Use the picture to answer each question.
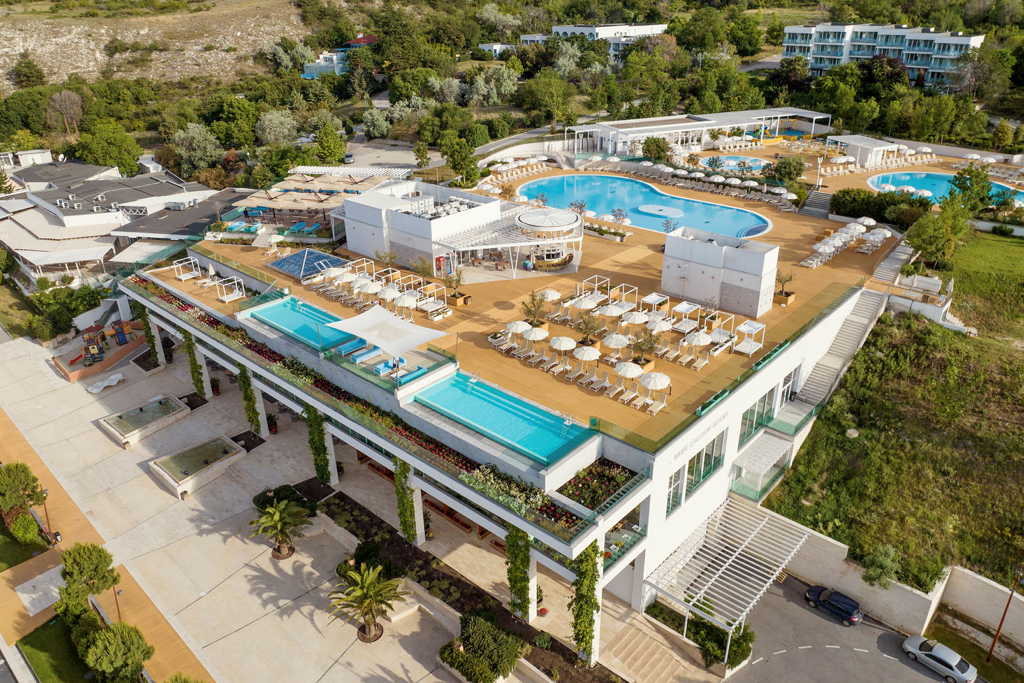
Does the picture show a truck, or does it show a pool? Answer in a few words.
pool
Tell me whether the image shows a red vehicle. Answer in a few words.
No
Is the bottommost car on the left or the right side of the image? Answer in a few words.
right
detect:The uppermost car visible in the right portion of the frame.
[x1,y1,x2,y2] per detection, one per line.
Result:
[805,586,867,628]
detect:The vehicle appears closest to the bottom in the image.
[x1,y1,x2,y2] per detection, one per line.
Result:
[902,636,976,683]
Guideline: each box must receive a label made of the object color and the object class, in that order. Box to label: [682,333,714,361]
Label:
white umbrella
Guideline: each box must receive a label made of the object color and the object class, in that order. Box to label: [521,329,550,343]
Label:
white umbrella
